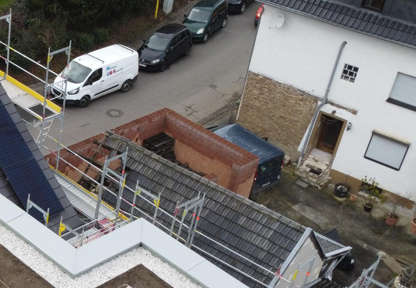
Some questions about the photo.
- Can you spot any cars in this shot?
Yes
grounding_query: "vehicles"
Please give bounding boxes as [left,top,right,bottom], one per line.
[134,20,196,72]
[205,118,287,191]
[49,40,142,107]
[176,0,234,43]
[233,0,252,14]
